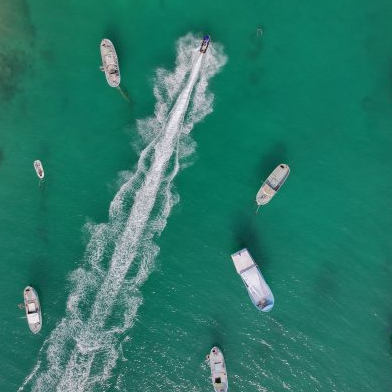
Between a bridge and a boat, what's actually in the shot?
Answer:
boat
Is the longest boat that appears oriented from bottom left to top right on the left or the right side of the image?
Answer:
right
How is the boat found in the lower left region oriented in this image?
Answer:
vertically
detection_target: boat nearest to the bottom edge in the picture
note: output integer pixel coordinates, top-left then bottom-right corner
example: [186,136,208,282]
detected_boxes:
[207,345,228,392]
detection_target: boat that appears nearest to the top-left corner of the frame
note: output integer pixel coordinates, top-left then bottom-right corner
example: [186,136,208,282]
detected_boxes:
[99,38,130,104]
